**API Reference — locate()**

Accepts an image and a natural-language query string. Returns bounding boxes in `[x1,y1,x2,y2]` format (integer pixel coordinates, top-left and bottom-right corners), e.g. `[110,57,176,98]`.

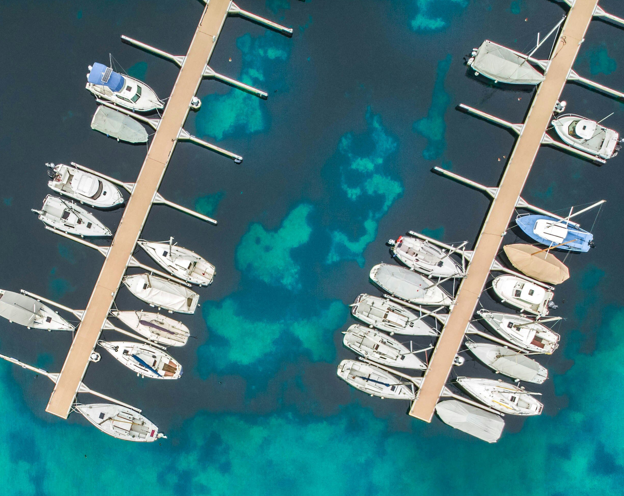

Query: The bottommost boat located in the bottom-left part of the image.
[70,394,165,445]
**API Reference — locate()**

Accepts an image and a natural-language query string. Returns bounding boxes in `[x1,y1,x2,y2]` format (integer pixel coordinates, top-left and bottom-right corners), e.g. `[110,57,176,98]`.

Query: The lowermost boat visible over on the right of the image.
[435,400,503,444]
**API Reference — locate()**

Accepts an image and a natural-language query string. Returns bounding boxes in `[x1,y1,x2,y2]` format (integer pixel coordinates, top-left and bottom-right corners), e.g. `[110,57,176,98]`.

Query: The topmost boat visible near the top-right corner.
[463,14,567,91]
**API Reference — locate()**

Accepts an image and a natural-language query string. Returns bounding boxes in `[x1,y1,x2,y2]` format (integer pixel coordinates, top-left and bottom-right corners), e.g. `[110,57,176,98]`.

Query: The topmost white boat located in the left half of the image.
[80,58,170,125]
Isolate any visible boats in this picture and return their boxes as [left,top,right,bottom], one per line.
[70,394,165,445]
[134,230,216,287]
[90,105,160,154]
[457,332,555,384]
[463,14,567,91]
[368,264,458,314]
[31,193,120,251]
[444,373,546,416]
[105,299,194,346]
[484,267,562,314]
[336,361,419,407]
[546,111,623,159]
[116,268,203,314]
[80,58,170,125]
[508,200,610,252]
[494,235,576,289]
[388,233,469,287]
[37,163,134,213]
[0,289,83,348]
[348,297,445,346]
[92,333,181,380]
[338,327,435,378]
[435,400,503,444]
[469,299,566,353]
